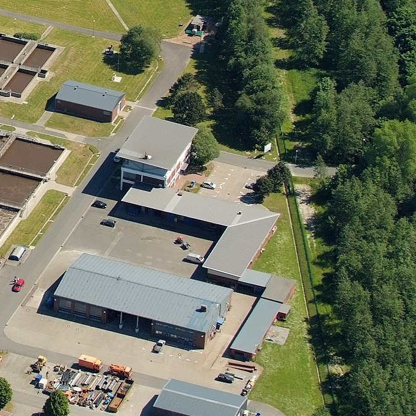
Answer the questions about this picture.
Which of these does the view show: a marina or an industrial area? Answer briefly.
industrial area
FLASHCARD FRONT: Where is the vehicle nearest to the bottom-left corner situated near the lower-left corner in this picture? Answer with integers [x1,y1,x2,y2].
[31,355,48,371]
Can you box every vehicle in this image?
[101,218,116,226]
[31,355,48,371]
[176,234,185,242]
[154,339,165,351]
[109,364,132,377]
[187,251,205,262]
[243,181,256,189]
[15,280,24,290]
[93,201,107,207]
[202,181,217,188]
[217,374,234,382]
[79,353,102,370]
